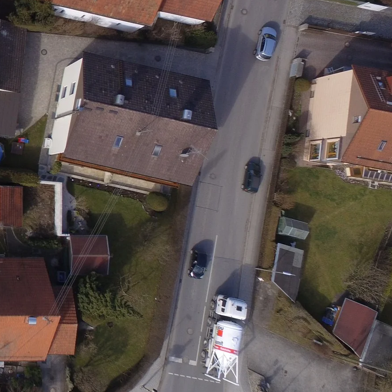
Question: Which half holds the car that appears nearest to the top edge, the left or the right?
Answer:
right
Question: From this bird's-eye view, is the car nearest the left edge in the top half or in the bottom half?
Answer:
bottom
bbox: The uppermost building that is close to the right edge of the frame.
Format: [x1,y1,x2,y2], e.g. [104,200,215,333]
[308,65,392,196]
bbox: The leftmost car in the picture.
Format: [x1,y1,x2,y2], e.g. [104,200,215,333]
[187,244,208,282]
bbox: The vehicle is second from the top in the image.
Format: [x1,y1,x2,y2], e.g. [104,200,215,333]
[240,158,263,195]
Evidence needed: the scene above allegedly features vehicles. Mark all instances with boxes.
[187,244,208,282]
[201,296,246,392]
[240,158,263,195]
[254,26,277,61]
